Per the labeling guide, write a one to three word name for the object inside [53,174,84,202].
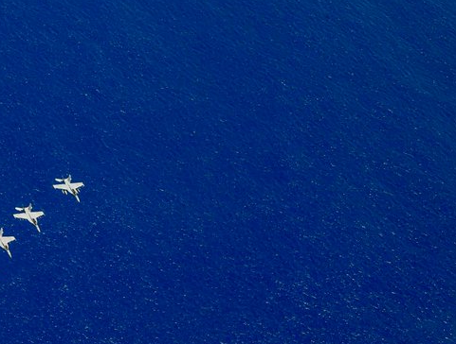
airplane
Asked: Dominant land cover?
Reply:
water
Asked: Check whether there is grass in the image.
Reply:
No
